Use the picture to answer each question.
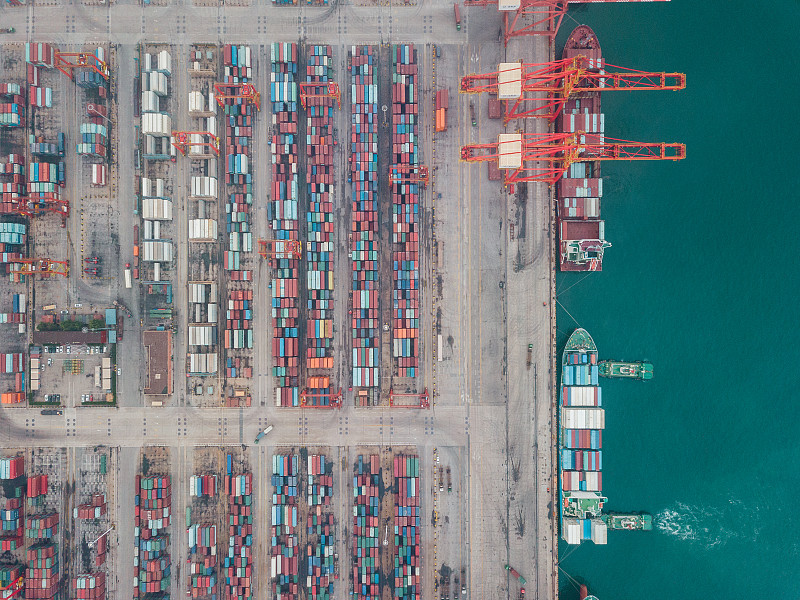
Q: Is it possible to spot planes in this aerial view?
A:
No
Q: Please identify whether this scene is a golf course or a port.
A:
port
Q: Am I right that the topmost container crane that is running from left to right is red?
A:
Yes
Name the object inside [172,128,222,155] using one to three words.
container crane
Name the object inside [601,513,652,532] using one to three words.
boat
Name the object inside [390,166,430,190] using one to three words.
container crane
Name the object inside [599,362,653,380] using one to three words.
boat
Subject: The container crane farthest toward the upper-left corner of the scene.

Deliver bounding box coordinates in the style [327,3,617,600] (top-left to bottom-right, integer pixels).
[55,49,112,80]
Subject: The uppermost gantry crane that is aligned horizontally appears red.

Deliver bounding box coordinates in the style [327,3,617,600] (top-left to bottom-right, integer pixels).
[461,0,687,49]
